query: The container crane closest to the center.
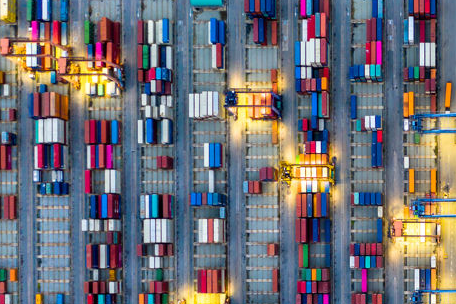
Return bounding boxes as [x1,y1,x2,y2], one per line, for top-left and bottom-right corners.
[223,88,282,125]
